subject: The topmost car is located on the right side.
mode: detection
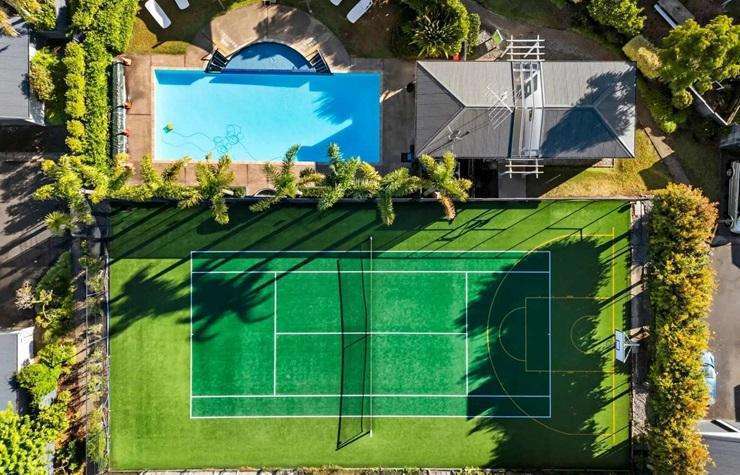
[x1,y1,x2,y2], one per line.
[716,124,740,153]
